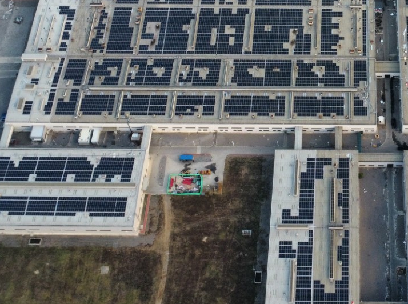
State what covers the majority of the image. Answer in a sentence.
The scene is dominated by buildings.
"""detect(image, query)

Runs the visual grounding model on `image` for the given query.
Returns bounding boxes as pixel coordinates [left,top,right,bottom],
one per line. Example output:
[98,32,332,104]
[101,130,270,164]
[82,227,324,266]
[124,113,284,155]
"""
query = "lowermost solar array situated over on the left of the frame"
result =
[0,196,127,216]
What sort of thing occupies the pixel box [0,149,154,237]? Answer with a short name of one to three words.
building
